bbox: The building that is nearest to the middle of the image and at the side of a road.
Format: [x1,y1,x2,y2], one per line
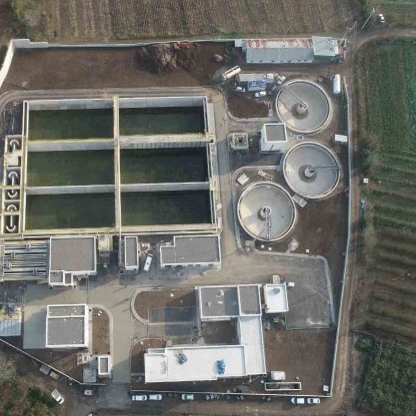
[160,236,221,268]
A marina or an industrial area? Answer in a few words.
industrial area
